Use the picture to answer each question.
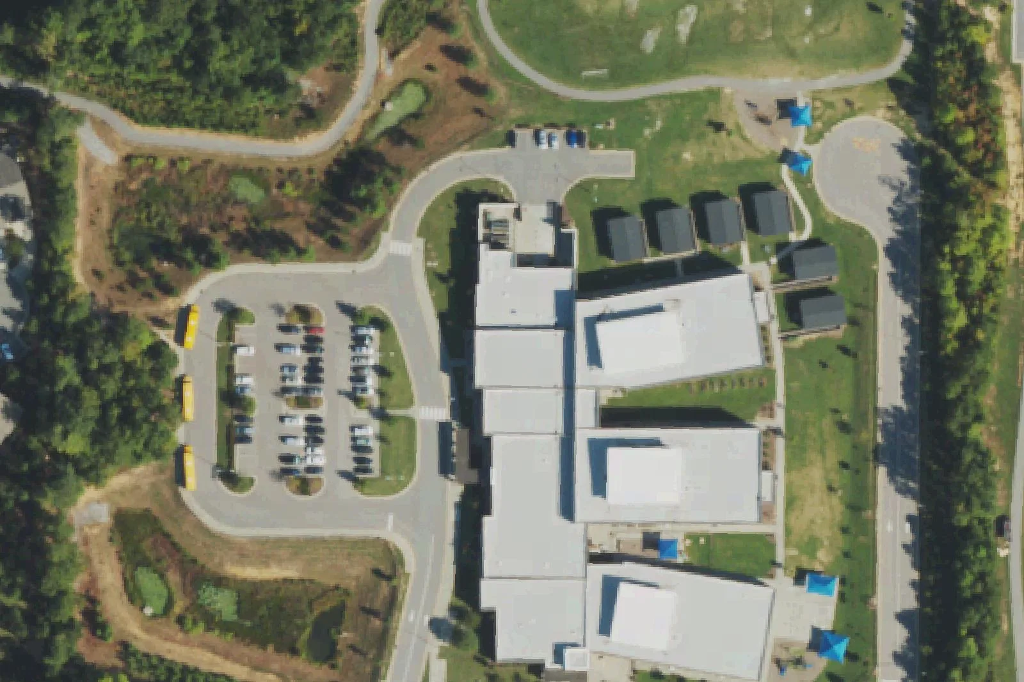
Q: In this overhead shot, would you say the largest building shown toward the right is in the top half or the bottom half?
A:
bottom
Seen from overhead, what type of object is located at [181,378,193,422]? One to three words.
vehicle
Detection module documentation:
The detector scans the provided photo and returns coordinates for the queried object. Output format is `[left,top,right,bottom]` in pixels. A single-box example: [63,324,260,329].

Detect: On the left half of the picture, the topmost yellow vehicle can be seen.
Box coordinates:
[183,304,199,349]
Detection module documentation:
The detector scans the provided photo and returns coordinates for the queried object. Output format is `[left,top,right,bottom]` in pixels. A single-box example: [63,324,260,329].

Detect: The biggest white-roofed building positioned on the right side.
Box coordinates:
[474,250,774,680]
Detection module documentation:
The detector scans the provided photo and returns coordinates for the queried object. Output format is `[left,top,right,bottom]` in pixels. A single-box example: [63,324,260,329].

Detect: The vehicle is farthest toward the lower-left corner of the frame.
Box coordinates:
[183,446,197,490]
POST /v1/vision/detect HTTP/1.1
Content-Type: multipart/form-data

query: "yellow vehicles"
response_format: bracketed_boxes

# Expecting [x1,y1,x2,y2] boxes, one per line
[183,446,197,490]
[183,304,199,349]
[181,378,193,422]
